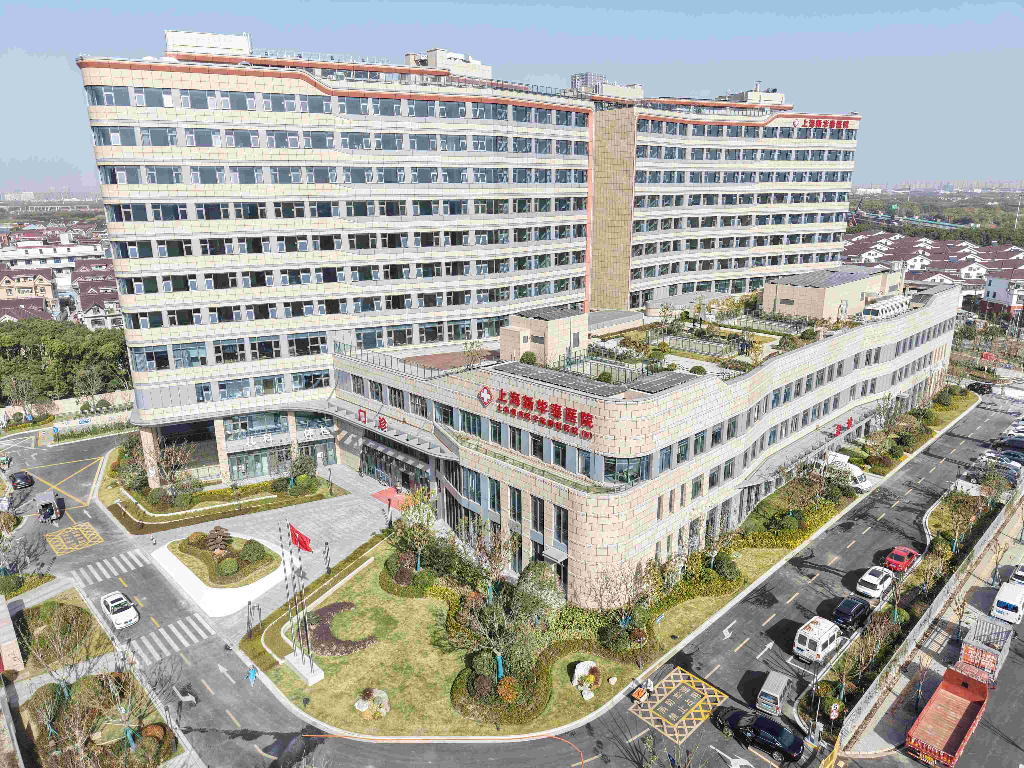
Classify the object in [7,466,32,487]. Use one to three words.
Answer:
car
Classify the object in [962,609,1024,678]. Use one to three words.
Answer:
truck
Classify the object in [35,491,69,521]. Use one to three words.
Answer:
van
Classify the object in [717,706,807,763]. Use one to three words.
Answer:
car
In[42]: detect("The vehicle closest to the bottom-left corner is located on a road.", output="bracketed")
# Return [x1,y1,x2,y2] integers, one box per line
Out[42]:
[100,587,138,627]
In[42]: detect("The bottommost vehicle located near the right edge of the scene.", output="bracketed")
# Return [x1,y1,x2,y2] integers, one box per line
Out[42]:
[905,657,1000,768]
